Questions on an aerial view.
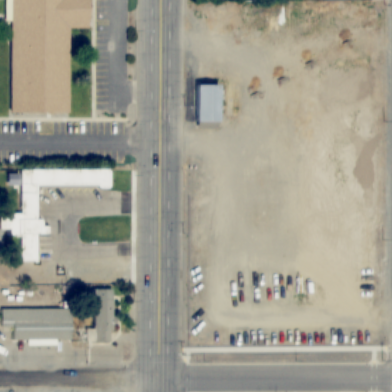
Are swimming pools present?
No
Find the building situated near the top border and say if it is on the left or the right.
left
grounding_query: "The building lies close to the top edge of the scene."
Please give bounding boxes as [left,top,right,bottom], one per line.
[9,0,92,114]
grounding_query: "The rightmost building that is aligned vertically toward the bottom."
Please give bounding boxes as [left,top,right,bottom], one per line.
[92,288,113,342]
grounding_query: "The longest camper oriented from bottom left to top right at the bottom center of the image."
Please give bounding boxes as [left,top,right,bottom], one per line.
[186,320,208,337]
